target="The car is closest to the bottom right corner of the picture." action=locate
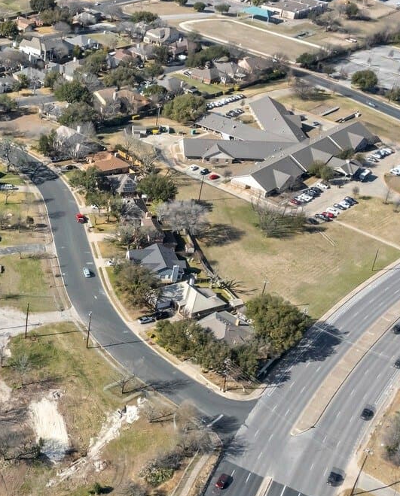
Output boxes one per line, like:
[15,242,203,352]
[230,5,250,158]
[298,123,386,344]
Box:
[326,468,342,488]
